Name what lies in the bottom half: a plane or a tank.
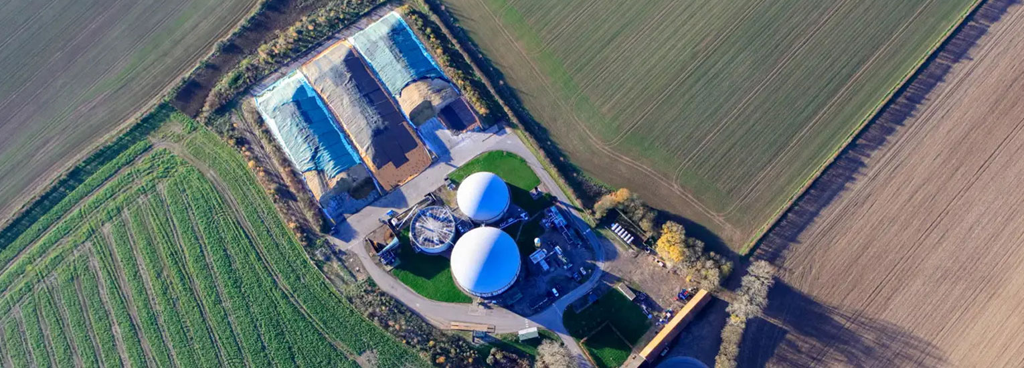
tank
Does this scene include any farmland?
Yes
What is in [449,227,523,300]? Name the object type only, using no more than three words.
storage tank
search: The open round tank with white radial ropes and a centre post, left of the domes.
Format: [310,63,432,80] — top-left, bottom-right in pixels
[409,206,459,256]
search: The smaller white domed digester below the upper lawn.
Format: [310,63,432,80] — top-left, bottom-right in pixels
[455,171,511,226]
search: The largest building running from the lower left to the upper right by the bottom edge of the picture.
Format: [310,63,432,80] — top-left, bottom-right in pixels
[635,287,712,364]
